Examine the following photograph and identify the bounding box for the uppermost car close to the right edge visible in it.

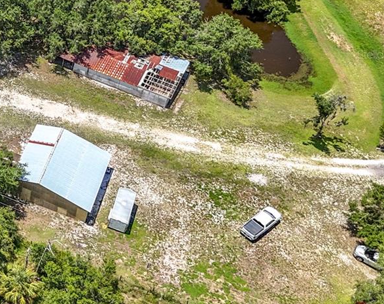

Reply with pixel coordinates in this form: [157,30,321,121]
[353,247,384,276]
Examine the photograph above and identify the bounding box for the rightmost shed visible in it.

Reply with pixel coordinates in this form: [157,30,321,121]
[64,35,184,107]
